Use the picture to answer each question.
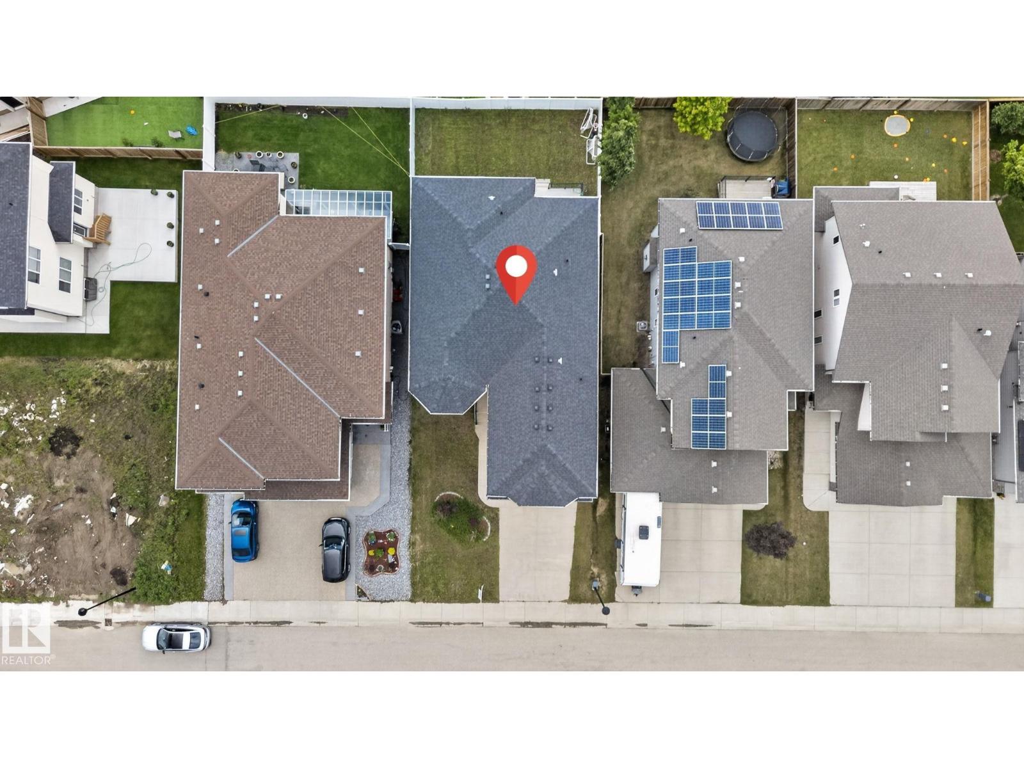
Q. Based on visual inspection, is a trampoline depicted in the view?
Yes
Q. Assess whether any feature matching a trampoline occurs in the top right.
Yes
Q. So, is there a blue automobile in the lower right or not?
No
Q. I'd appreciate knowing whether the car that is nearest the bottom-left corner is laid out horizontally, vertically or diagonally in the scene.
horizontally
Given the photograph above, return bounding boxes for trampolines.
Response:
[884,114,910,136]
[720,101,787,168]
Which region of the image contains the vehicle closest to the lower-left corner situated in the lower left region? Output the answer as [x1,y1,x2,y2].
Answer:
[142,620,211,654]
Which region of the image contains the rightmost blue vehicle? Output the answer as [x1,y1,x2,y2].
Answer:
[226,500,259,562]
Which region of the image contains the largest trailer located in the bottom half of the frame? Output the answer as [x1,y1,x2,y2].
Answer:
[611,493,661,595]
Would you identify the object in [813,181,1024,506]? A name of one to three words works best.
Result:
house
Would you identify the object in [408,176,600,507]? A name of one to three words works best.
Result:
house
